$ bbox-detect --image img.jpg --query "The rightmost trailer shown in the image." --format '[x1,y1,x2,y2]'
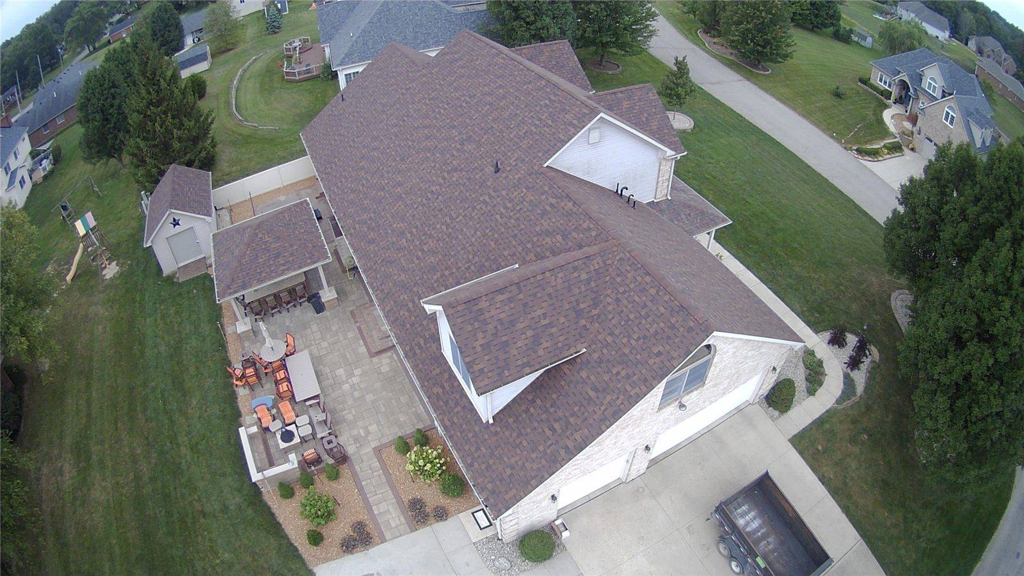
[707,467,842,576]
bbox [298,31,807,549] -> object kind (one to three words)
house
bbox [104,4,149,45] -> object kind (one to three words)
house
